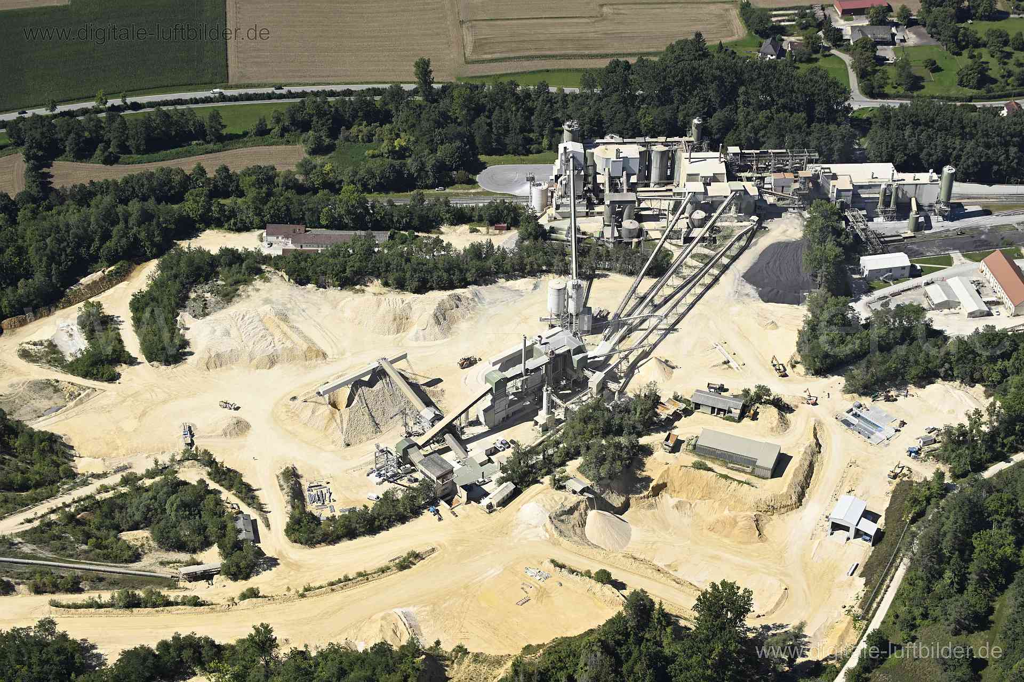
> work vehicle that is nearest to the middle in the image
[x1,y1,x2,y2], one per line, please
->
[457,354,481,368]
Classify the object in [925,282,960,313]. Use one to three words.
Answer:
building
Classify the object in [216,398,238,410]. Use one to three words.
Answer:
vehicle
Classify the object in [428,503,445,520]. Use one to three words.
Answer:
vehicle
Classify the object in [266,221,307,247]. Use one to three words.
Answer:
house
